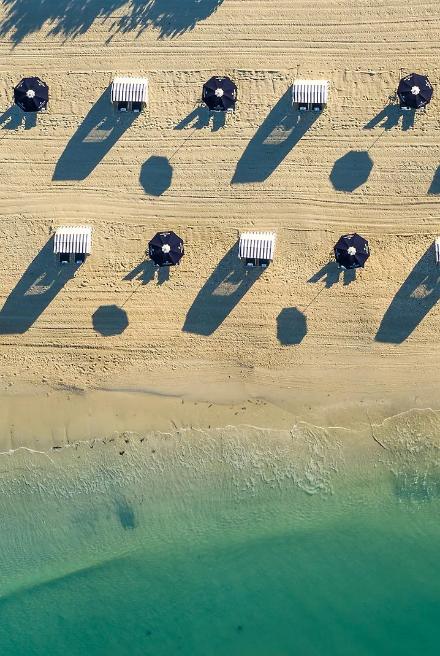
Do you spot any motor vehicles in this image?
No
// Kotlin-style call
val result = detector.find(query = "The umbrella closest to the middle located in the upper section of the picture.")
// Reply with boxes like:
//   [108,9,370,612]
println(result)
[149,231,184,266]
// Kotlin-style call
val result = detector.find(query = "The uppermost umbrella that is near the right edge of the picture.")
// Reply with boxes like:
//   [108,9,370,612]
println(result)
[397,74,433,109]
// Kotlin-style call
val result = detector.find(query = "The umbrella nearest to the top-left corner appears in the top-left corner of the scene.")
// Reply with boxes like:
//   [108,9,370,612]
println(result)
[15,77,48,112]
